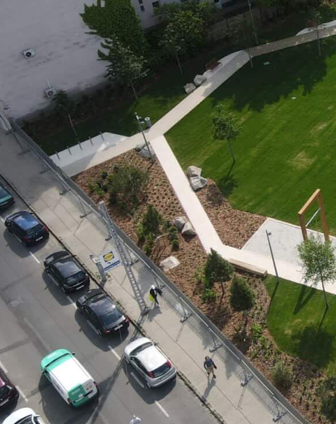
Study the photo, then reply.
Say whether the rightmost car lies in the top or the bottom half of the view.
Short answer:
bottom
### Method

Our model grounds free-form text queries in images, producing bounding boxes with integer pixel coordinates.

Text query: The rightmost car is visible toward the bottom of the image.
[119,331,182,393]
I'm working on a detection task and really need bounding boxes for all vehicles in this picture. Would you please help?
[0,401,46,424]
[119,331,182,393]
[72,282,134,343]
[0,174,19,212]
[37,241,96,298]
[1,204,53,251]
[37,348,104,418]
[0,360,23,414]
